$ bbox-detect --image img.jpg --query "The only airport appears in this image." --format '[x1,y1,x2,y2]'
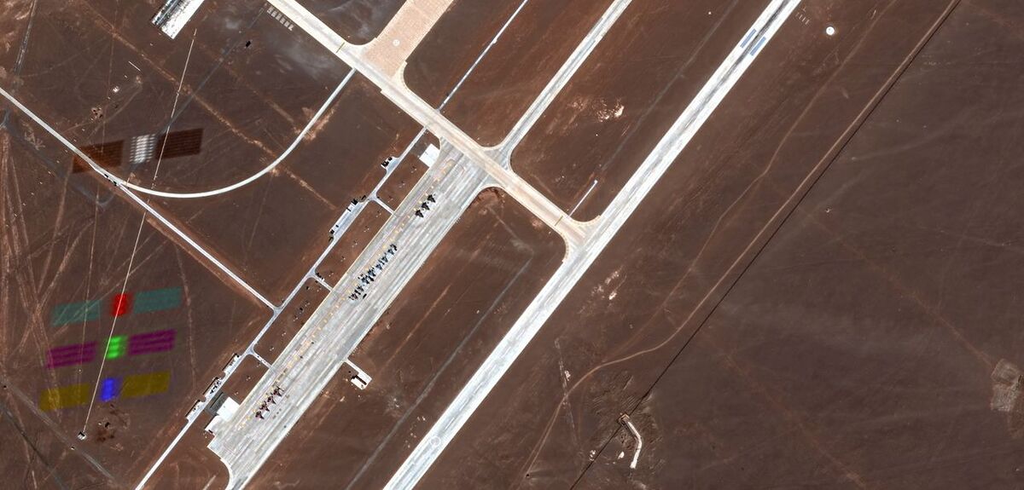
[204,0,801,490]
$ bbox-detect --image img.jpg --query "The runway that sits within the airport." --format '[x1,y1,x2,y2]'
[384,0,801,490]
